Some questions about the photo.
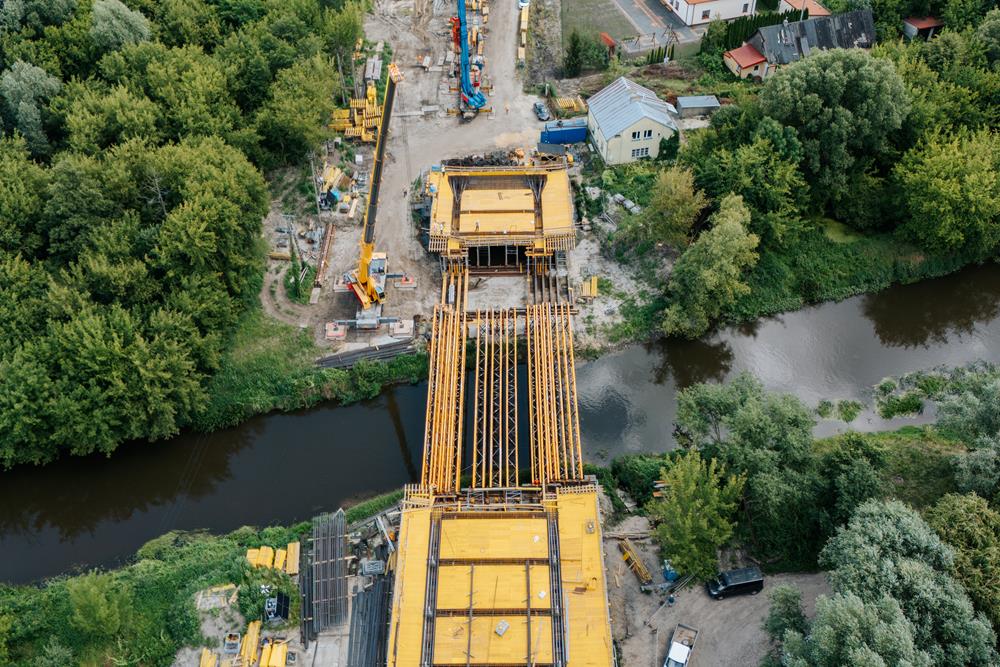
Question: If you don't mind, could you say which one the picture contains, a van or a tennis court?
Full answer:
There is a van in the scene.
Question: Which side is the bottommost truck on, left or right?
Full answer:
The bottommost truck is on the right side of the image.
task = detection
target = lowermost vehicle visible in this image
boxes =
[661,617,702,667]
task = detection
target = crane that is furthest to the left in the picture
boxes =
[322,58,417,338]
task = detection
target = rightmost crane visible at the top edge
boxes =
[438,0,502,118]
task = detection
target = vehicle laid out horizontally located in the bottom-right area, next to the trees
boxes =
[707,562,771,597]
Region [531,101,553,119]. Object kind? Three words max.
car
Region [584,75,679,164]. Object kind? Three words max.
house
